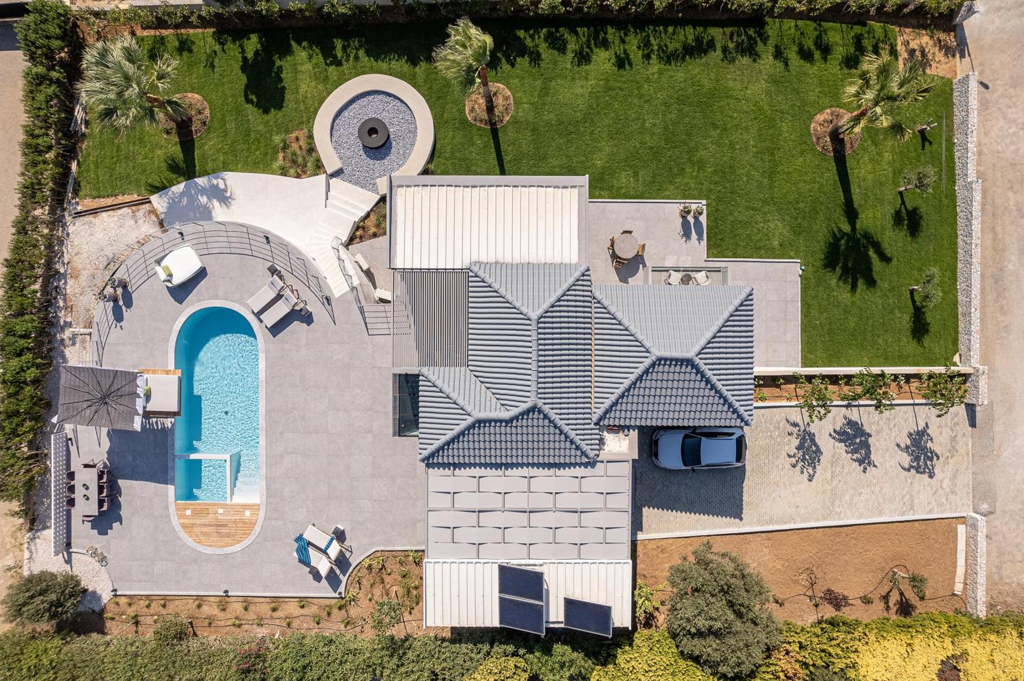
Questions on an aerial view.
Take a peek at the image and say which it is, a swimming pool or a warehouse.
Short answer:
swimming pool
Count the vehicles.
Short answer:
1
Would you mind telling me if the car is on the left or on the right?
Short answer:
right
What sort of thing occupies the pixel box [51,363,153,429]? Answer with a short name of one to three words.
umbrella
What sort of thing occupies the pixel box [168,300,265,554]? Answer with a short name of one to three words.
swimming pool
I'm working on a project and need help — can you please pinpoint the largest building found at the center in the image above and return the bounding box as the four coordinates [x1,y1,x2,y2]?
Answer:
[388,175,757,467]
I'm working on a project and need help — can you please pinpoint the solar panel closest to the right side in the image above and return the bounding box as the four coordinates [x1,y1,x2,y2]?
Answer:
[562,597,612,637]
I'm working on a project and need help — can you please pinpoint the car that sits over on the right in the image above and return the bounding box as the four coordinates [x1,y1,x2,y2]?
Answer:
[652,427,748,475]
